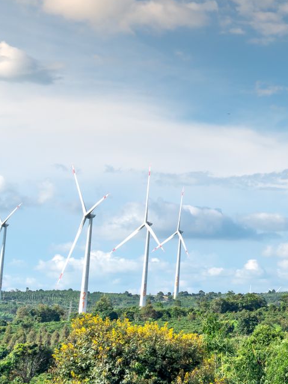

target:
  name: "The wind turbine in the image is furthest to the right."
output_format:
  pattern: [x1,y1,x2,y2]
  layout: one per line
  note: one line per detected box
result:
[152,188,189,298]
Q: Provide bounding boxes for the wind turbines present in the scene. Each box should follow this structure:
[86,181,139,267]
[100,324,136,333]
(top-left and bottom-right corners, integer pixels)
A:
[152,188,189,298]
[113,163,166,307]
[60,167,110,311]
[0,203,22,300]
